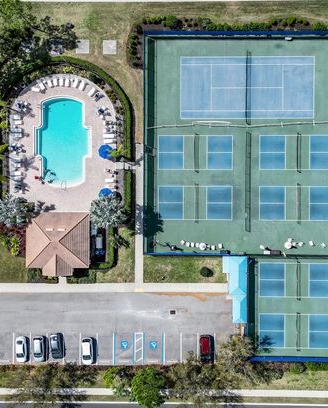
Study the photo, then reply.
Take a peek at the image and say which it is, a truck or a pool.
pool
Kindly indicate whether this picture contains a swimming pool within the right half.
No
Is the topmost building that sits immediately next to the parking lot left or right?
left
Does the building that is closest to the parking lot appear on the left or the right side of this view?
right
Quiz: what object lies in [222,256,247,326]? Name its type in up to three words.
building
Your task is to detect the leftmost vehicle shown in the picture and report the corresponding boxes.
[12,337,26,364]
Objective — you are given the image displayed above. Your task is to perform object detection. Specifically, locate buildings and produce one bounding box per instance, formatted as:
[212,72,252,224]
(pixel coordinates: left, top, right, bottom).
[25,212,90,277]
[222,256,247,326]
